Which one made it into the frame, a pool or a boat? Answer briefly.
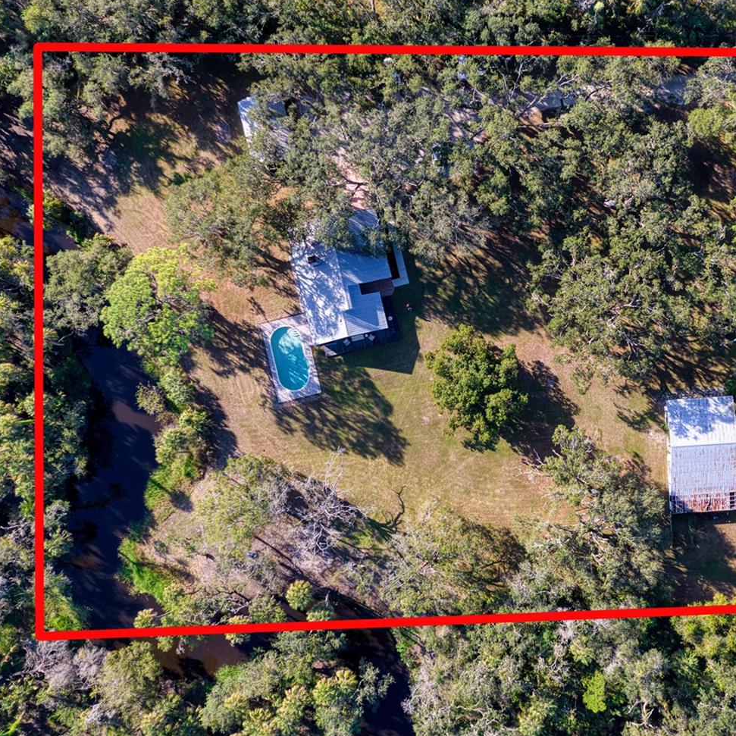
pool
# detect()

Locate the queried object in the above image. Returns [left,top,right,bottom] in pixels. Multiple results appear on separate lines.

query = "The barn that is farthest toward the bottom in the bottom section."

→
[663,396,736,516]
